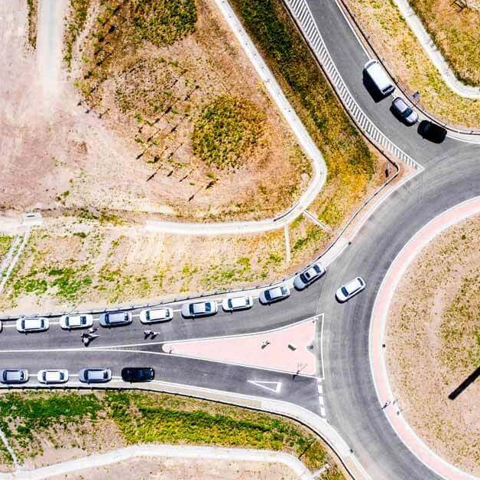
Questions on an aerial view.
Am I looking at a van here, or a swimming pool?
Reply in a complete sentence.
The image shows a van.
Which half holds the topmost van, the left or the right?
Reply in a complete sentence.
The topmost van appears in the right half of the scene.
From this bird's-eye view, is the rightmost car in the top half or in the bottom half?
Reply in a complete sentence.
It is in the top half that the rightmost car appears.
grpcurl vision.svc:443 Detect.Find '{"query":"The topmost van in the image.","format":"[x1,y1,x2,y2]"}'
[362,57,396,98]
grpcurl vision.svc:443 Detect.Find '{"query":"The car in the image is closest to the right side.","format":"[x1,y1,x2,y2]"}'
[416,119,447,143]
